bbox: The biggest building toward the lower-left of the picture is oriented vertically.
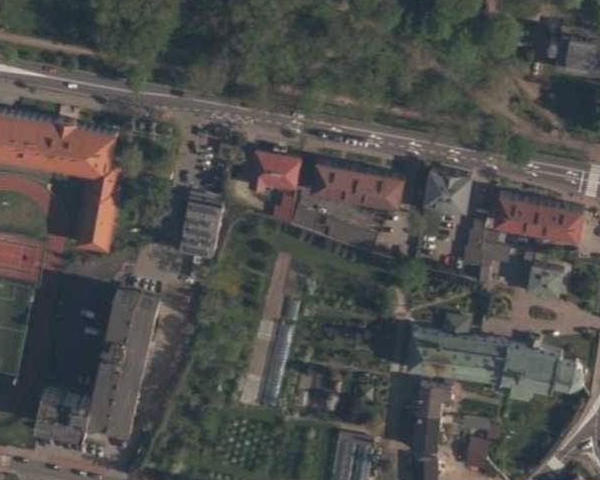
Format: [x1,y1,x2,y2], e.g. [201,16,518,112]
[86,278,161,446]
